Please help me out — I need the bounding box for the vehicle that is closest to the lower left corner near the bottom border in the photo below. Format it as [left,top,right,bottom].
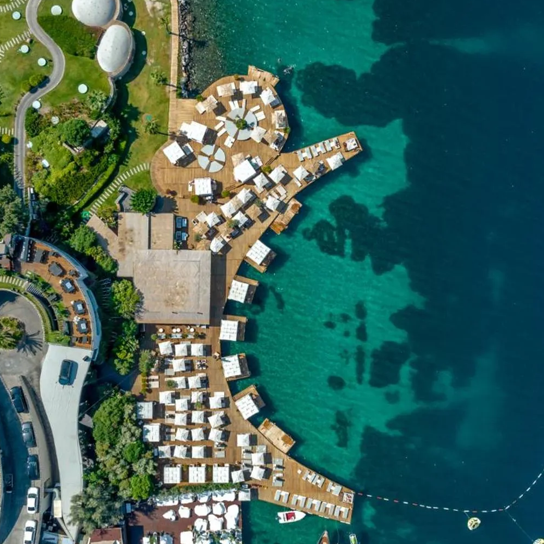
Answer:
[22,520,36,544]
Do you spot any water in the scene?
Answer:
Yes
